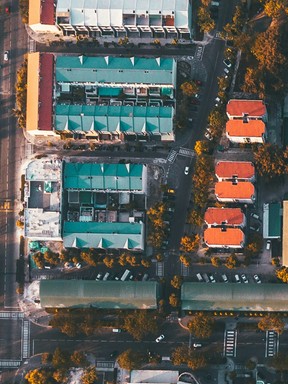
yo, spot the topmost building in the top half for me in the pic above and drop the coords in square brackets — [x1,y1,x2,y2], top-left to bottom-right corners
[29,0,60,32]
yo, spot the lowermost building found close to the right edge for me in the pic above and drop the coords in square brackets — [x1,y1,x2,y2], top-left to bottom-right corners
[180,282,288,313]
